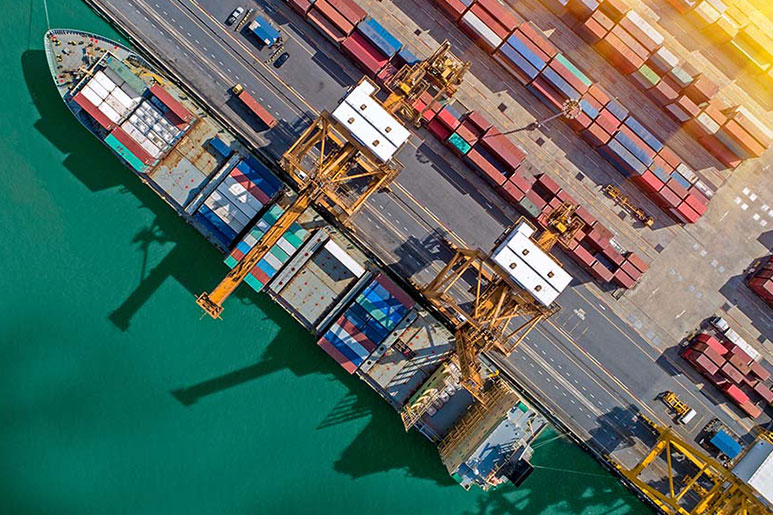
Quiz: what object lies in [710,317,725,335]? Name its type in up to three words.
vehicle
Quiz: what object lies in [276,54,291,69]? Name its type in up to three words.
car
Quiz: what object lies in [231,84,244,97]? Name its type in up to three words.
vehicle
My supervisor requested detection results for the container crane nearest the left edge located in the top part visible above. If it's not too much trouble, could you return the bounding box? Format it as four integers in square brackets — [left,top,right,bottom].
[189,41,476,325]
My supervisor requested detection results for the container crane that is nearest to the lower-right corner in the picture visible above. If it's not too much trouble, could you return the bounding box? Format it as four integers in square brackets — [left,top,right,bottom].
[601,412,773,515]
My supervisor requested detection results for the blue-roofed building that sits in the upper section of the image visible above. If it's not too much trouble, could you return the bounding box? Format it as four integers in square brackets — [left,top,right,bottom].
[248,15,281,50]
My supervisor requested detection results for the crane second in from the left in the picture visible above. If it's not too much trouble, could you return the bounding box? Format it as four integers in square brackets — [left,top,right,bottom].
[410,205,593,406]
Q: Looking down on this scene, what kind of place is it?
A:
port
